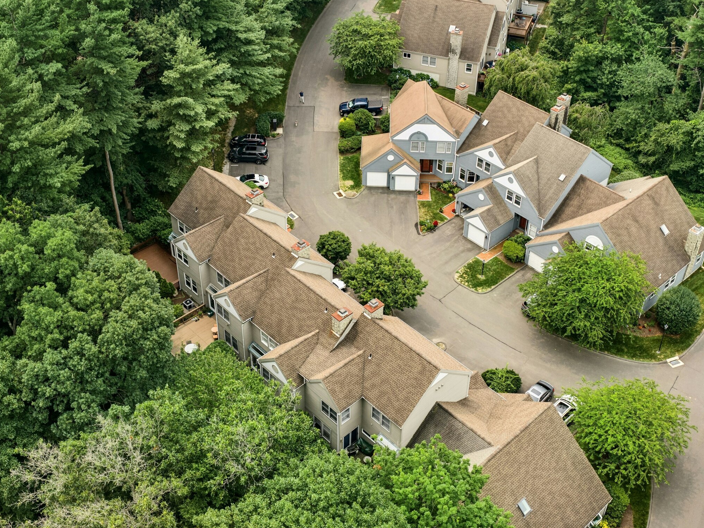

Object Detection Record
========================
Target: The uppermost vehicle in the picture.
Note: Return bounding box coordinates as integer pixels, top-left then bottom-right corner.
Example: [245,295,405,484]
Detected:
[339,97,383,115]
